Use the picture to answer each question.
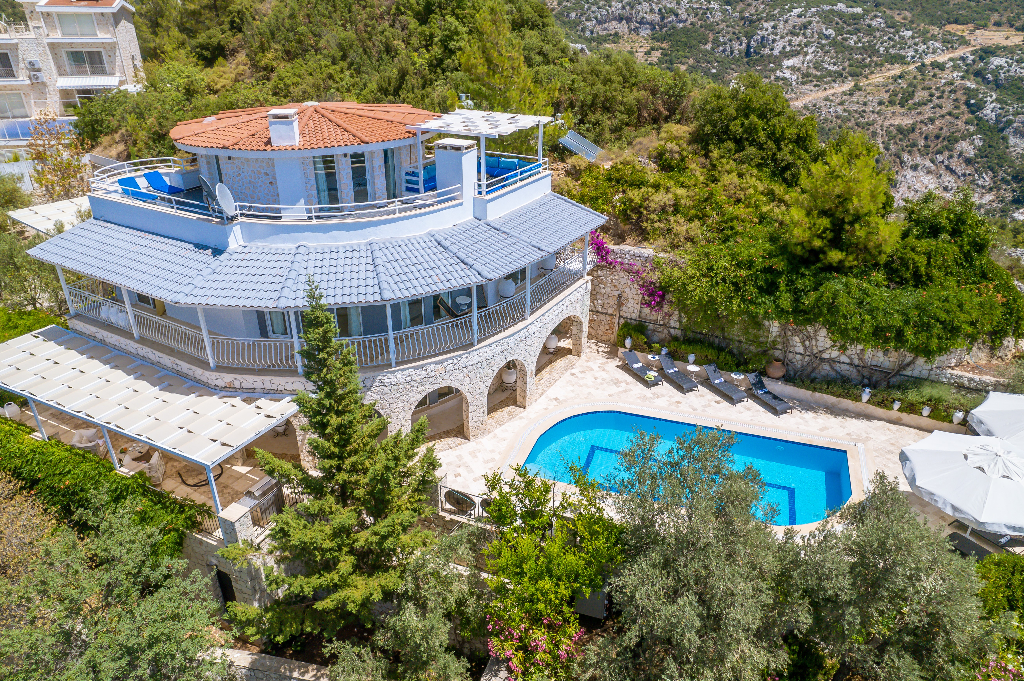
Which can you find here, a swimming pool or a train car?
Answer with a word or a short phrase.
swimming pool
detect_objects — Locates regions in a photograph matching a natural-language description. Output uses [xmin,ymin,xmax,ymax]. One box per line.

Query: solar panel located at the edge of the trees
[557,130,603,201]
